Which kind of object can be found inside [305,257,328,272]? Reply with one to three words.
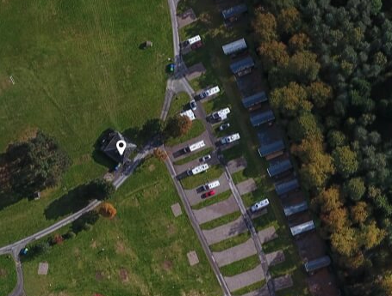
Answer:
camper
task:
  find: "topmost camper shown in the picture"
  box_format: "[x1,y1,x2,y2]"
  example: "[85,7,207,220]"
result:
[221,2,248,20]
